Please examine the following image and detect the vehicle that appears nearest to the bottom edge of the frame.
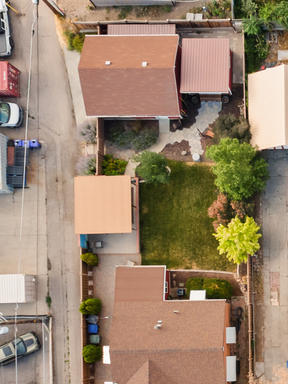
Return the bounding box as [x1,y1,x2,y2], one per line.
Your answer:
[0,330,44,367]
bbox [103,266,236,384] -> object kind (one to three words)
house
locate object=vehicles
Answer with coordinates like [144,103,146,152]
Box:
[0,100,25,129]
[0,0,15,60]
[0,330,44,367]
